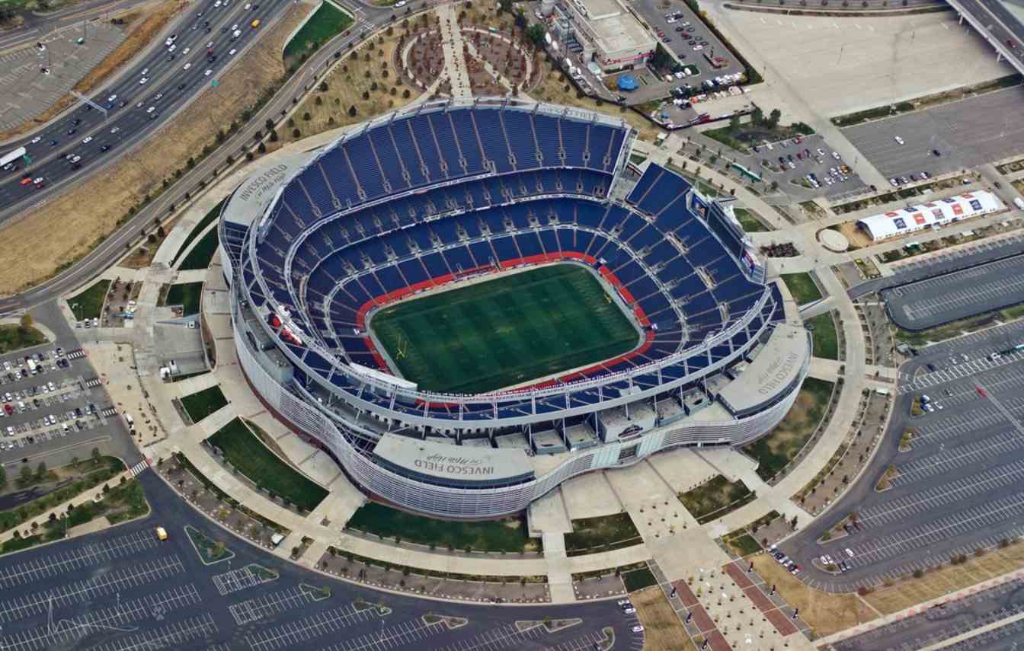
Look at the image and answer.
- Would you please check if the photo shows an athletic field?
Yes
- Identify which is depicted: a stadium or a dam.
stadium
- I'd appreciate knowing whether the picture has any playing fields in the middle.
Yes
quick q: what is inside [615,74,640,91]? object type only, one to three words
tent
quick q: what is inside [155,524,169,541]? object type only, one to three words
vehicle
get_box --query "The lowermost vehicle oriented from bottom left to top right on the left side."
[157,362,172,378]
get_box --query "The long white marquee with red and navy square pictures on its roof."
[859,187,1006,241]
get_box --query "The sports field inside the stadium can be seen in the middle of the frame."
[369,261,646,405]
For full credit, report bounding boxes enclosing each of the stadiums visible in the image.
[214,94,817,523]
